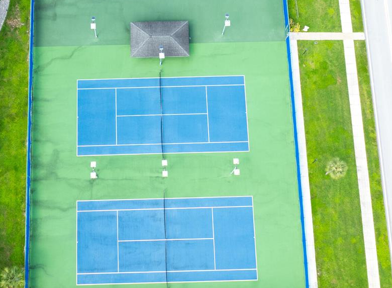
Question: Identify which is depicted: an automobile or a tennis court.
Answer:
tennis court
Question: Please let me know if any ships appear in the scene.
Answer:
No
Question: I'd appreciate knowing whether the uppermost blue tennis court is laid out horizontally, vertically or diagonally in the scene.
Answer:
horizontally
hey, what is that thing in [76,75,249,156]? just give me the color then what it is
blue tennis court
